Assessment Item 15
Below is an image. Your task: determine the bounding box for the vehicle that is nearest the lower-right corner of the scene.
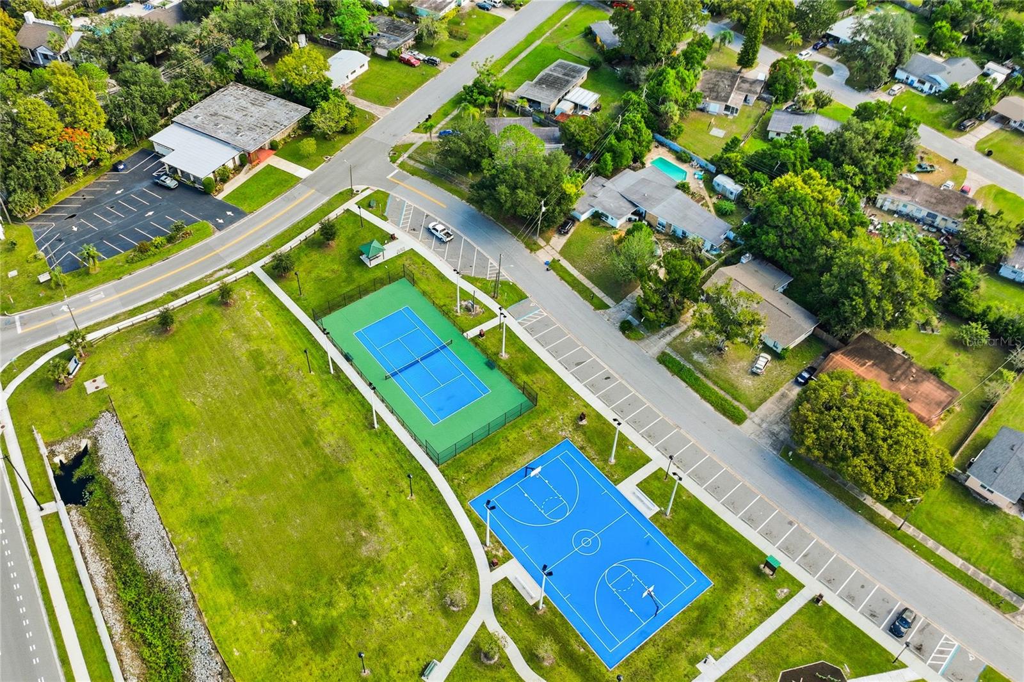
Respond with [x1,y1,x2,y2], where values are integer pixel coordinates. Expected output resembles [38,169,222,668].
[887,605,918,639]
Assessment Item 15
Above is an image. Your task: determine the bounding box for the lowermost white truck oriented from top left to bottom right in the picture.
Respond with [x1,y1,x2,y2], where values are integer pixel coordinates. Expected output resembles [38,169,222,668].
[428,221,455,242]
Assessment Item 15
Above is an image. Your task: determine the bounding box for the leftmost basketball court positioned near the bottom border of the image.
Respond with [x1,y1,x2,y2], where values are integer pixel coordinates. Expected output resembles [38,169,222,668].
[469,440,712,667]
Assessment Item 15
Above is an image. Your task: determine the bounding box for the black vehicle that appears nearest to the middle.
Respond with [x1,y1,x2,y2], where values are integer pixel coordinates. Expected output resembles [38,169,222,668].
[557,220,577,236]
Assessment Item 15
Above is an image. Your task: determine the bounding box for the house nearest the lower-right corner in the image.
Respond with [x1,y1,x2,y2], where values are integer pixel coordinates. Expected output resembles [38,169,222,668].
[962,427,1024,511]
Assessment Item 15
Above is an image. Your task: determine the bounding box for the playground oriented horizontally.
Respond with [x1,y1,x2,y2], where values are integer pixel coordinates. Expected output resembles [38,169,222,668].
[777,660,850,682]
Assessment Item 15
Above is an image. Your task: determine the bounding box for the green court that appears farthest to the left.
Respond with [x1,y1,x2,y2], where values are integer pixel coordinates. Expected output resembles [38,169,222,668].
[314,276,535,463]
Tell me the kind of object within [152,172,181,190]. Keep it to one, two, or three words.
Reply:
vehicle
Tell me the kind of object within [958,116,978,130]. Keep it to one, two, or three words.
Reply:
car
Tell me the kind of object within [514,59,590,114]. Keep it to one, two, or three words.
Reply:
house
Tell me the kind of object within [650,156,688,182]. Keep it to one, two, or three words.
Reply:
swimming pool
